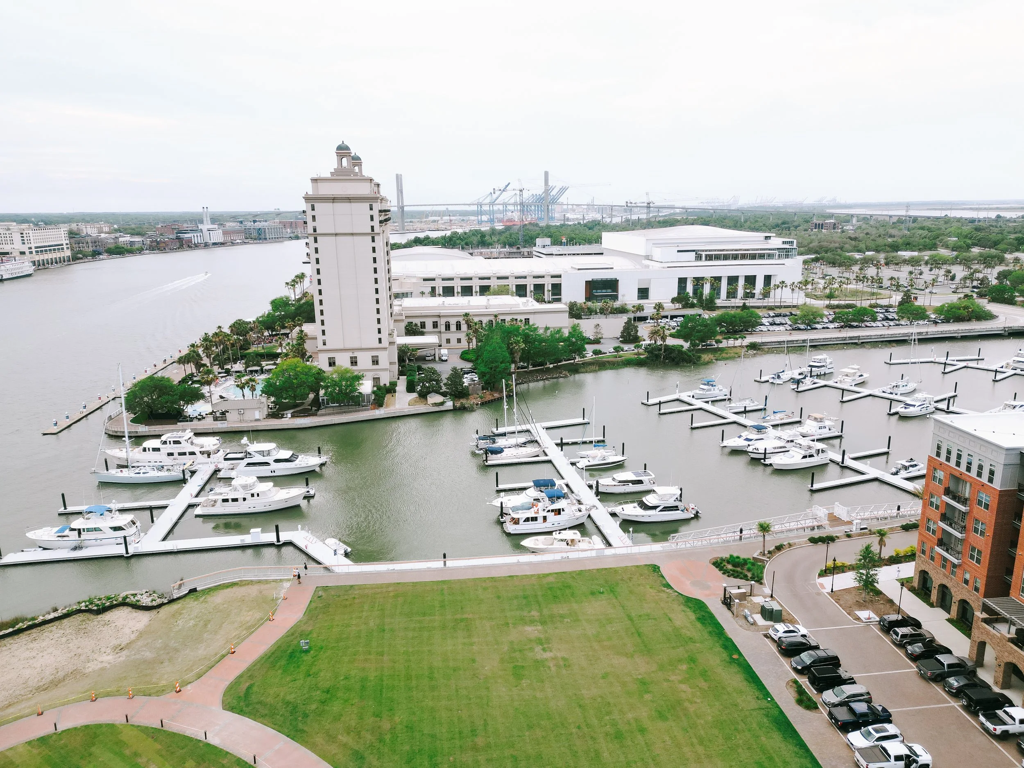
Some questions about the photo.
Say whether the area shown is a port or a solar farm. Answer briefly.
port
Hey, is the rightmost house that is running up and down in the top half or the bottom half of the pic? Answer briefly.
bottom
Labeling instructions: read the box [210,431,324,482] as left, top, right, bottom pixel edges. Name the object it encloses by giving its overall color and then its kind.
white boat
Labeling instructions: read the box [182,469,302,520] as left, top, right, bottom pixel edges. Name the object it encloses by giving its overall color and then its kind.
white boat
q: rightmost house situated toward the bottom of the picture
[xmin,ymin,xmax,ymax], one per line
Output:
[913,412,1024,685]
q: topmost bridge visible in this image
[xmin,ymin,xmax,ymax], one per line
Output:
[108,171,1024,233]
